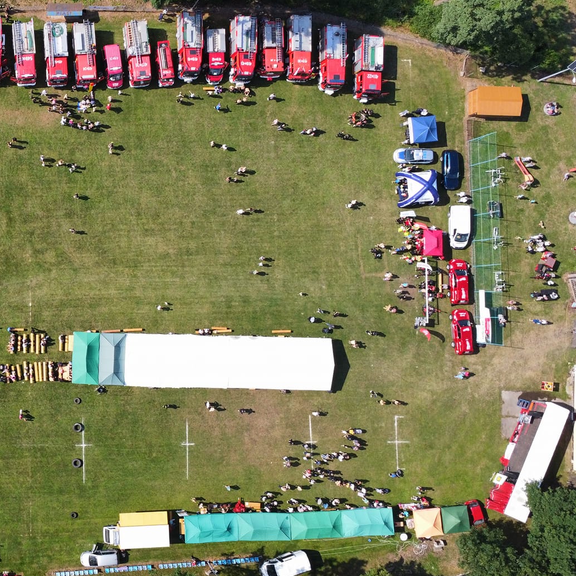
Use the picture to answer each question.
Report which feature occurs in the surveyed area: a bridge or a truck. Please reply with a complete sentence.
Visible in the photo is a truck.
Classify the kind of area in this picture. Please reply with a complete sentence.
What you see here is a sports ground.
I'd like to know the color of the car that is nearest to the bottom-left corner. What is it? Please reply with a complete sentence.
The car that is nearest to the bottom-left corner looks white in the image.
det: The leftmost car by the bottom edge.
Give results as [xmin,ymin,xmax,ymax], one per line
[80,543,118,569]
